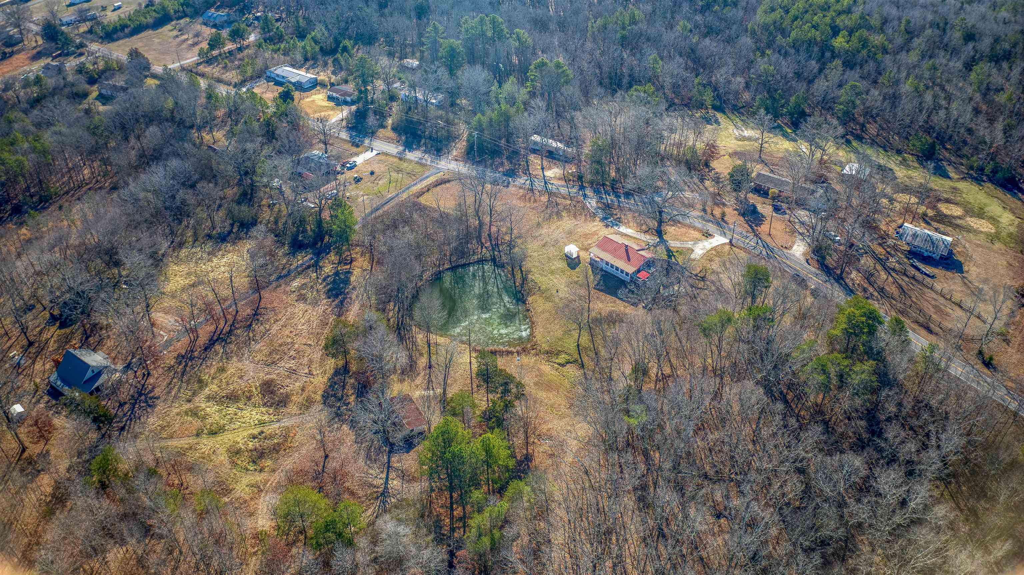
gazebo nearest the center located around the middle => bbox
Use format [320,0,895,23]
[564,243,582,260]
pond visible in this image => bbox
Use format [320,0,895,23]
[409,260,533,347]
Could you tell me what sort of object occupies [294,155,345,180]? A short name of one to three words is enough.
house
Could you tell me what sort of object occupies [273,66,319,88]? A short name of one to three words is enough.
house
